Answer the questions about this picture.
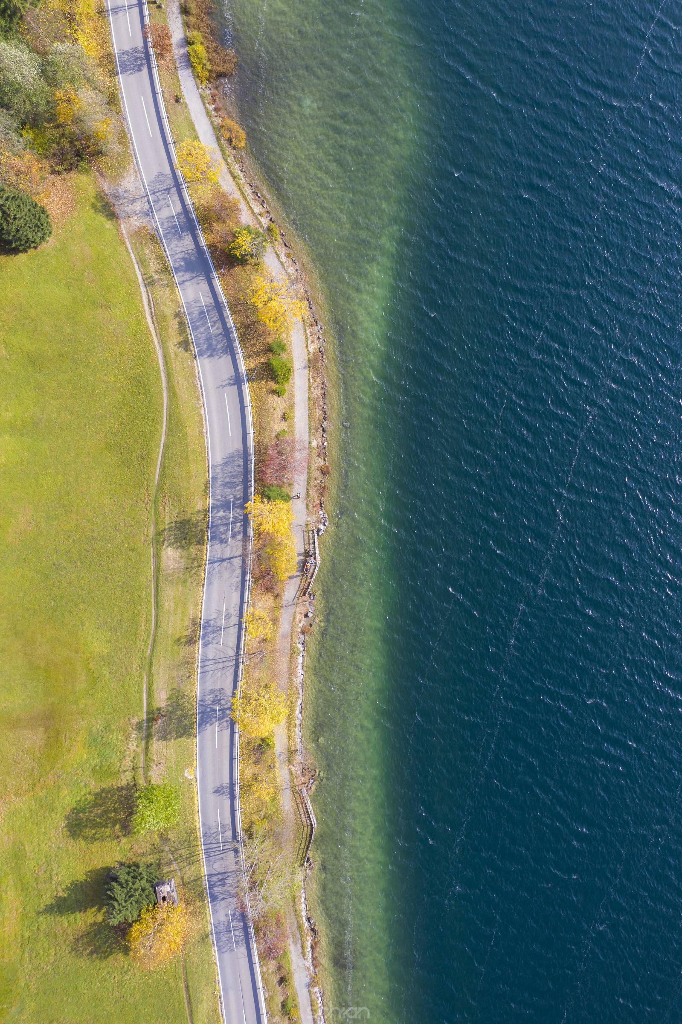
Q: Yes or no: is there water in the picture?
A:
Yes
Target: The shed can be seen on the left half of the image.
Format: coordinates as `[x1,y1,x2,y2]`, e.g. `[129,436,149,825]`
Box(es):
[156,872,181,905]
